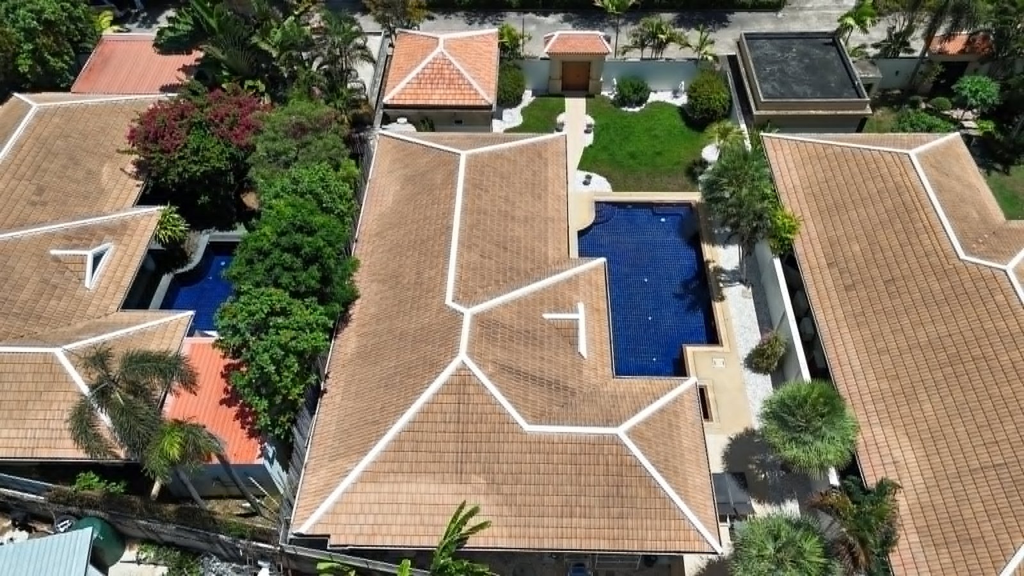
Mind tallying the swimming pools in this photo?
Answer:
2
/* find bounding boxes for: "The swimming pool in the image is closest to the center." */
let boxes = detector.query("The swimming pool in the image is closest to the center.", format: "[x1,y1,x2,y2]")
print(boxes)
[572,197,729,378]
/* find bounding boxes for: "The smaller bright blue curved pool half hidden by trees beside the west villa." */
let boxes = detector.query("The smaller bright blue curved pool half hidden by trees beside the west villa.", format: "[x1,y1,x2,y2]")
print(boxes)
[149,227,246,332]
